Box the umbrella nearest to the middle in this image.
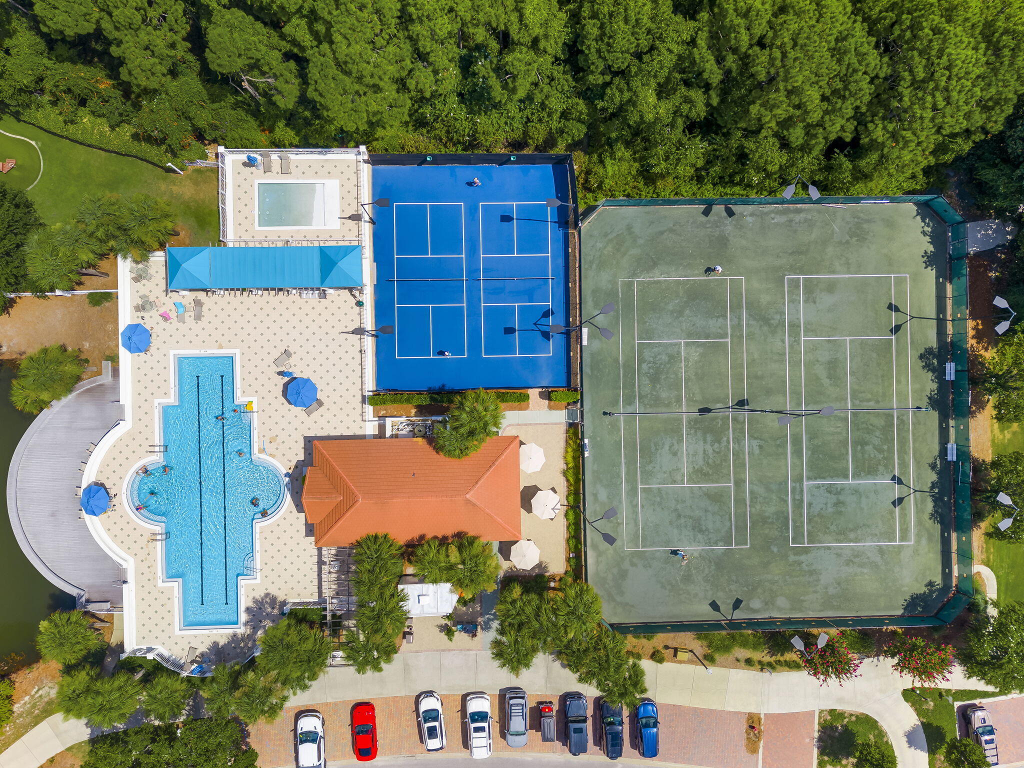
[521,444,545,471]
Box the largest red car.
[350,700,379,762]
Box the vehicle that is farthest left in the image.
[295,709,325,768]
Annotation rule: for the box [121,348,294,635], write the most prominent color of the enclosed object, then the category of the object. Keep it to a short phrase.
blue swimming pool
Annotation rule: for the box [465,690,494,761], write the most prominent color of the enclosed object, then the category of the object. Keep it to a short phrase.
white car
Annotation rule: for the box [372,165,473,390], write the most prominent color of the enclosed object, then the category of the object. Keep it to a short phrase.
blue sports court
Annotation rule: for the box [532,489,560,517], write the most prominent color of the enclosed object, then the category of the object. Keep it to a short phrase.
white umbrella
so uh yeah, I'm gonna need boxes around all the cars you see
[595,694,625,761]
[416,690,448,755]
[295,709,325,768]
[503,686,530,747]
[960,703,1008,768]
[564,691,591,757]
[465,690,494,761]
[350,700,379,762]
[633,696,661,759]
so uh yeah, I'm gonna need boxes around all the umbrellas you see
[286,370,299,378]
[287,376,319,407]
[123,324,155,353]
[83,485,116,514]
[196,657,213,672]
[510,539,540,569]
[532,489,560,517]
[521,444,545,471]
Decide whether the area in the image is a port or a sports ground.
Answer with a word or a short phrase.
sports ground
